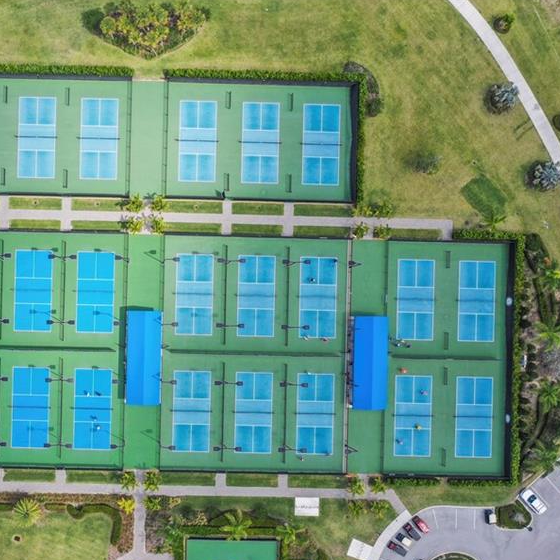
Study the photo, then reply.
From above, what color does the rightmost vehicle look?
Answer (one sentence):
The color of the rightmost vehicle is white.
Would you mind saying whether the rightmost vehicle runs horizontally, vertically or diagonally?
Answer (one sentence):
I'd say the rightmost vehicle is aligned diagonally in the picture.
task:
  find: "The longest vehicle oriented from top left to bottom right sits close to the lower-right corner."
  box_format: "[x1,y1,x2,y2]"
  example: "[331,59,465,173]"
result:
[518,488,547,515]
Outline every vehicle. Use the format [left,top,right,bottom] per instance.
[403,527,421,543]
[396,534,411,547]
[412,519,429,535]
[518,488,547,515]
[388,541,406,556]
[481,509,495,523]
